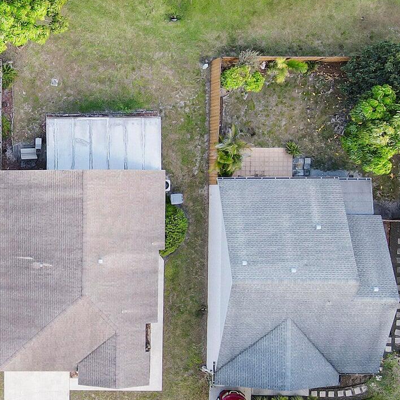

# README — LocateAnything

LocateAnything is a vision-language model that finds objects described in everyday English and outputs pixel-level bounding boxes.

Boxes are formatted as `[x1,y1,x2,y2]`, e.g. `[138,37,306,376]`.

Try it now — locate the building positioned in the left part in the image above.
[0,116,166,389]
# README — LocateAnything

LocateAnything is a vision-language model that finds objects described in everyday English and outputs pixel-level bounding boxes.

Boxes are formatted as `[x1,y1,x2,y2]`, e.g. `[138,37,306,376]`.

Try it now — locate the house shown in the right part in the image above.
[208,176,399,391]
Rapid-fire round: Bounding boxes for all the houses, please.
[208,176,399,391]
[0,116,166,389]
